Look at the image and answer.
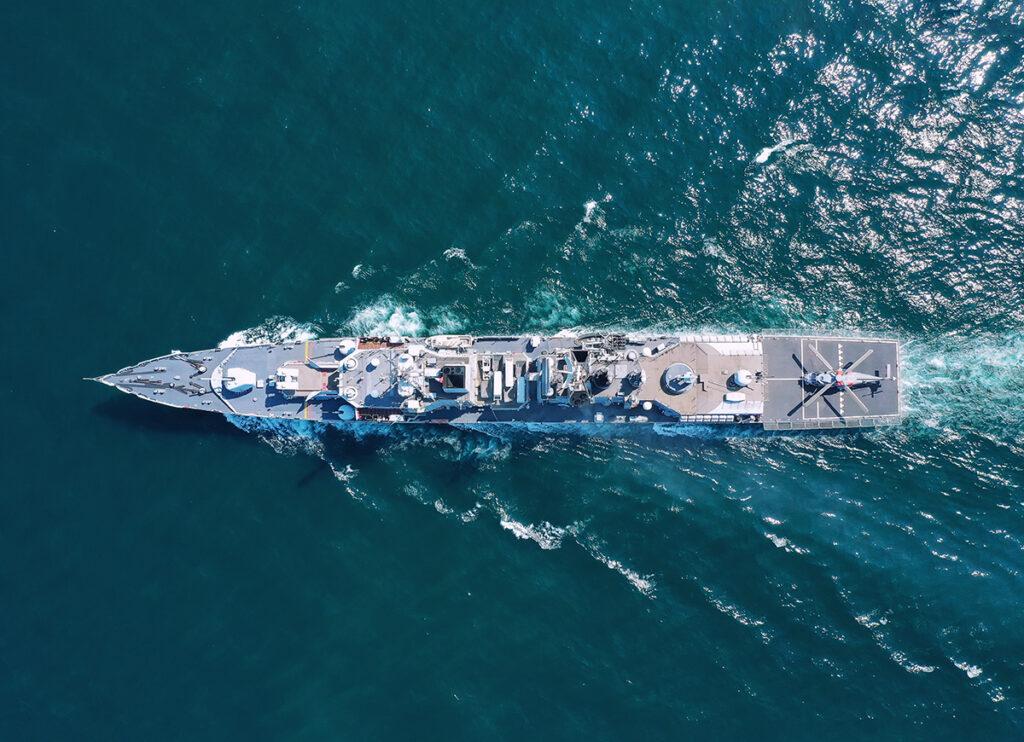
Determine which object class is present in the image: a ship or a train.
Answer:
ship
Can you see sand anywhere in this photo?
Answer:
No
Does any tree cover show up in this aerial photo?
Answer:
No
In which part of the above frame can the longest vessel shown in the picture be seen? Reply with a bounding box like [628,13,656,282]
[84,329,904,430]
